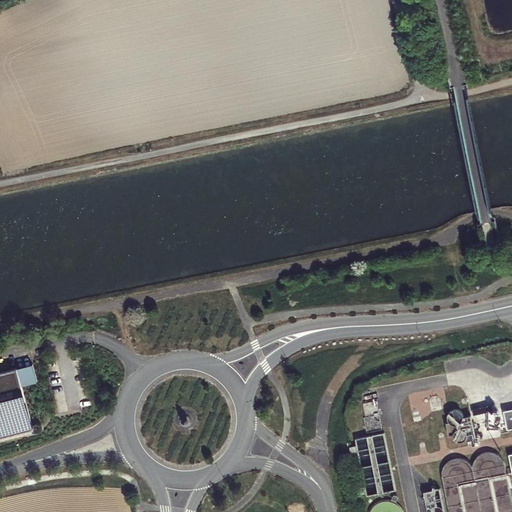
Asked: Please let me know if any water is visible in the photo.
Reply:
Yes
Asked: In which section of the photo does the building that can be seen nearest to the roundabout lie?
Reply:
bottom left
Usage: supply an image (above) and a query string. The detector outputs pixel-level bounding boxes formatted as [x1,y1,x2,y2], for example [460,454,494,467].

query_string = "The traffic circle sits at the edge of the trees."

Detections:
[116,350,256,489]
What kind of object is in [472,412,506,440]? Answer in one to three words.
building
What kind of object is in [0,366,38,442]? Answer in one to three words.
building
